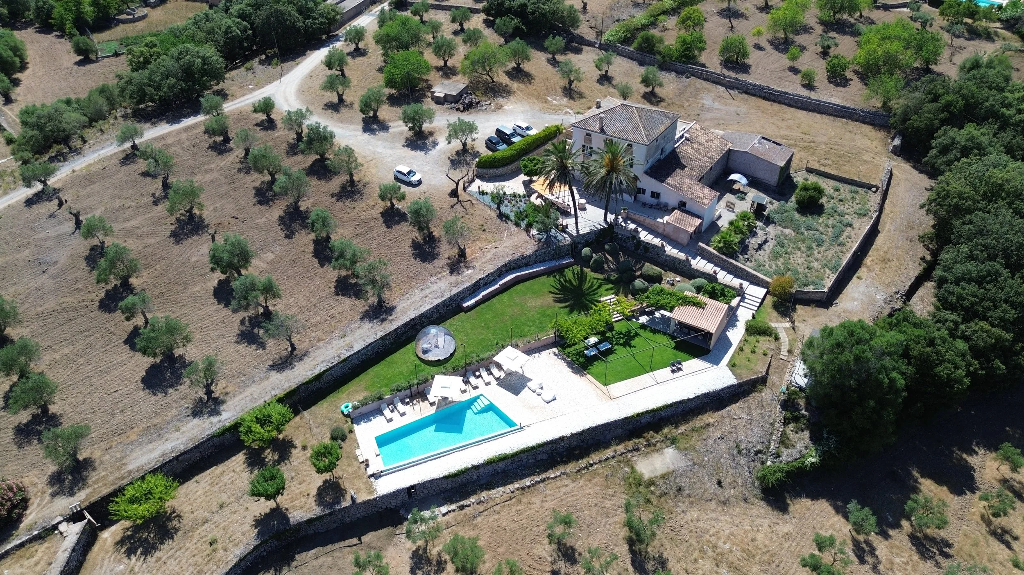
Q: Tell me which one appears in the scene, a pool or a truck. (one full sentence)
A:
There is a pool in the scene.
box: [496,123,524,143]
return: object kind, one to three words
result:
car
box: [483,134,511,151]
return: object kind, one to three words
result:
car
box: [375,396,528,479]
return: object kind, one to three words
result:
swimming pool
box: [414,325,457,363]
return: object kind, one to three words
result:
tent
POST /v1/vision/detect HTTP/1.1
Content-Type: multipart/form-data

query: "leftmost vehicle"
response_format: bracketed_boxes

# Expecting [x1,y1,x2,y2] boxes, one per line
[391,169,422,186]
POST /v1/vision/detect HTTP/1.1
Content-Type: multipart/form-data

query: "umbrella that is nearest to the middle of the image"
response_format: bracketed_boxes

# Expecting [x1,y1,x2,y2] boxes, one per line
[493,340,530,375]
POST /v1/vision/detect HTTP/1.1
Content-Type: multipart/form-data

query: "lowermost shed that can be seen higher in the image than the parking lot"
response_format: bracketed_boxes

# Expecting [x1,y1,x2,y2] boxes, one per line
[430,76,464,104]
